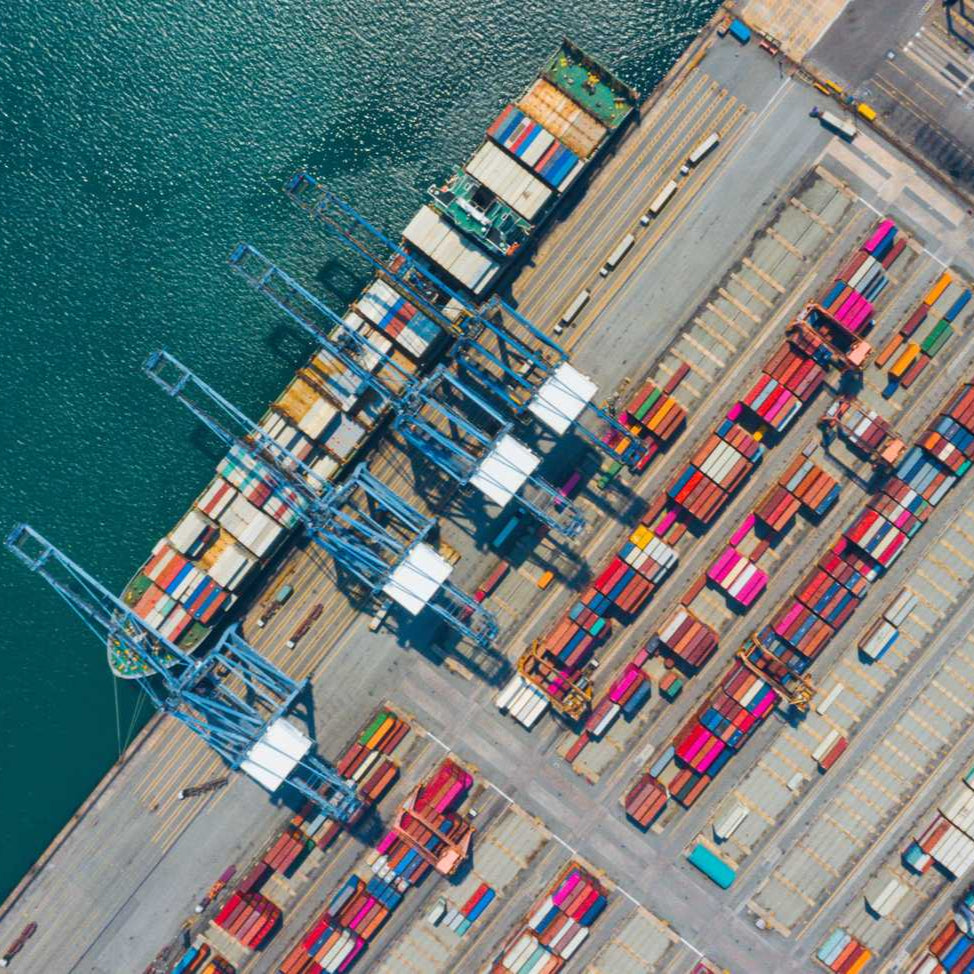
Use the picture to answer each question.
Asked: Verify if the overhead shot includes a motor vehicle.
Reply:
Yes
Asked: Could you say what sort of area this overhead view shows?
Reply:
port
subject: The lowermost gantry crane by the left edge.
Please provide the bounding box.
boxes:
[3,522,373,823]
